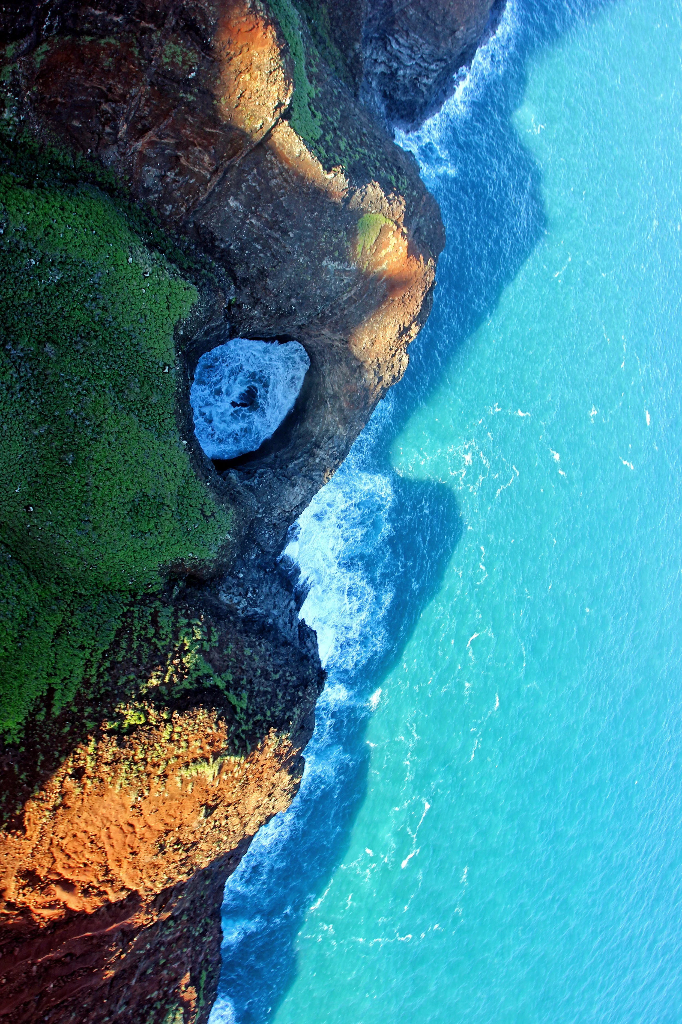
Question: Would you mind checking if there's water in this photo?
Yes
